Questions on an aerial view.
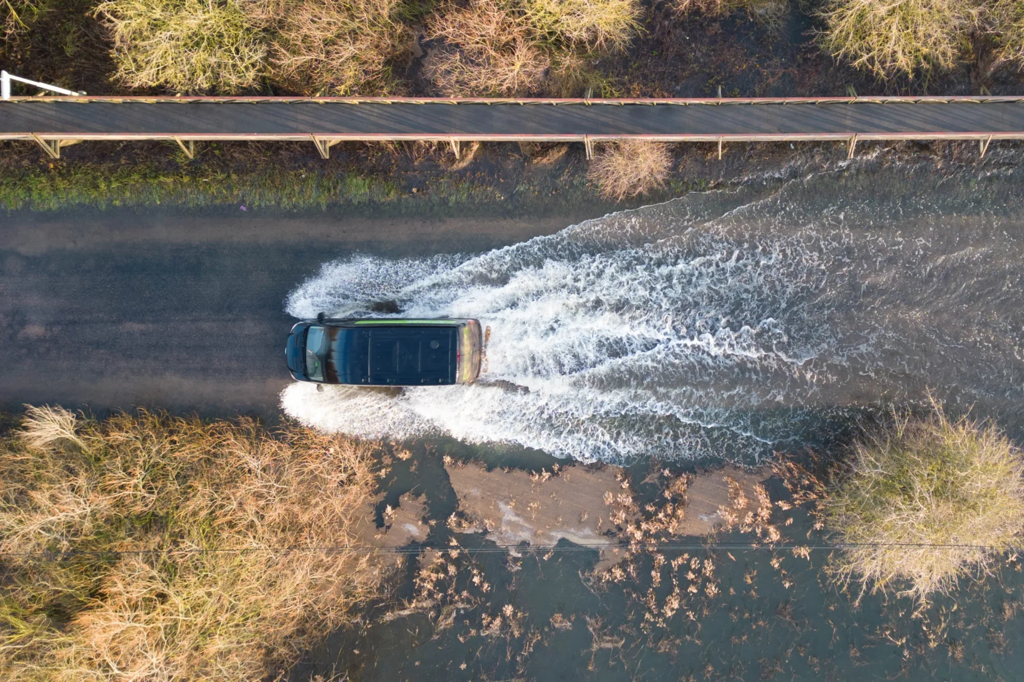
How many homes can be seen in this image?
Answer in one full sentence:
The picture shows no homes.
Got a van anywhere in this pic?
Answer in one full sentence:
Yes, I can see a van in this picture.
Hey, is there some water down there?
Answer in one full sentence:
Yes, there is water in the image.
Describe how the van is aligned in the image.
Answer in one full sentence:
I'd say the van is aligned from side to side in the picture.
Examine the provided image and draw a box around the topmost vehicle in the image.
[280,309,494,396]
